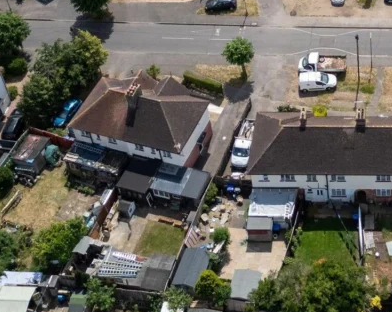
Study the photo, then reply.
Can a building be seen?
Yes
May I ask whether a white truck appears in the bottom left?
No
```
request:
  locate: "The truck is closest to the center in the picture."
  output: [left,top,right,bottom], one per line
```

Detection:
[231,122,256,165]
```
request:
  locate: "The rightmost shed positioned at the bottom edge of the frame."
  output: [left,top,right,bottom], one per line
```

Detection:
[231,264,262,312]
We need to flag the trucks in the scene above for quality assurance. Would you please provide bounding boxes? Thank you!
[297,51,349,76]
[231,122,256,165]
